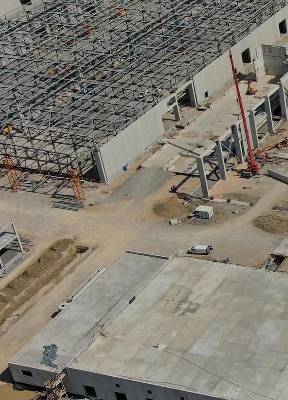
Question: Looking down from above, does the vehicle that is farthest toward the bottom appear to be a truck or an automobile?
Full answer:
The vehicle that is farthest toward the bottom appears to be a truck.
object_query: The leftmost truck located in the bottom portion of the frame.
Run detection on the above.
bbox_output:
[49,264,105,313]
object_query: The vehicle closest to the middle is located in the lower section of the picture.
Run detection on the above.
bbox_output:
[188,244,211,256]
